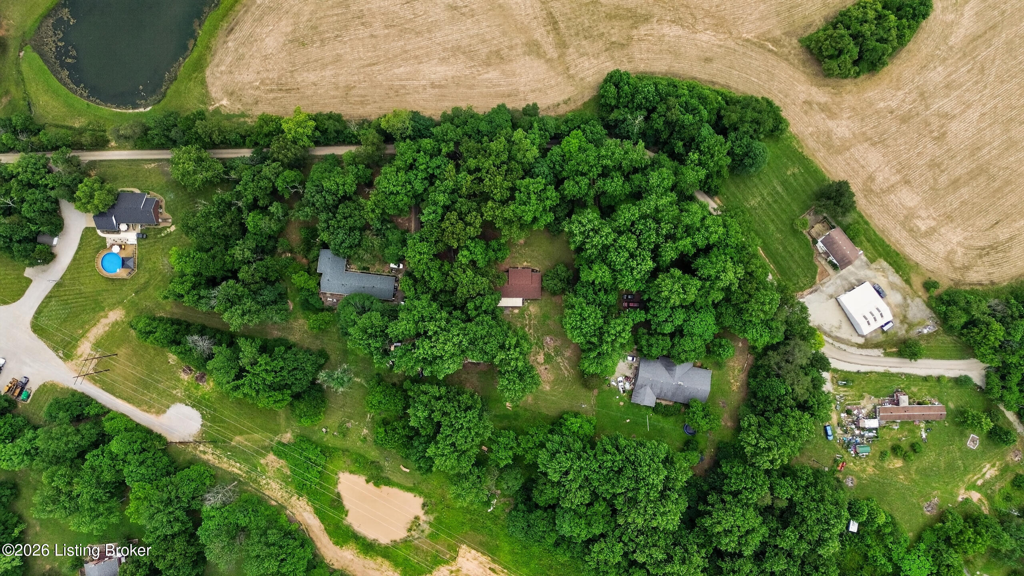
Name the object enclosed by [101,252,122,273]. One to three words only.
swimming pool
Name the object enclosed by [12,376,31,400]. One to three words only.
vehicle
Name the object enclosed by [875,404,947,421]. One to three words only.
house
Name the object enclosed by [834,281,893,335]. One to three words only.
barn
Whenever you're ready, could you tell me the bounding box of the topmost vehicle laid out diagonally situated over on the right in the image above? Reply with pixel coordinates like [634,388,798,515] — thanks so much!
[872,282,887,299]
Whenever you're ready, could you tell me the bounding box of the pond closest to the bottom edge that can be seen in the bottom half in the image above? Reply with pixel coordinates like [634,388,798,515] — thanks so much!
[337,470,423,542]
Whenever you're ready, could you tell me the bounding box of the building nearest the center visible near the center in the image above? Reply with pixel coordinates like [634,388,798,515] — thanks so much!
[499,269,541,299]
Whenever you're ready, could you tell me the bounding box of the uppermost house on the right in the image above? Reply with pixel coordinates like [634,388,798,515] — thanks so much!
[817,227,864,270]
